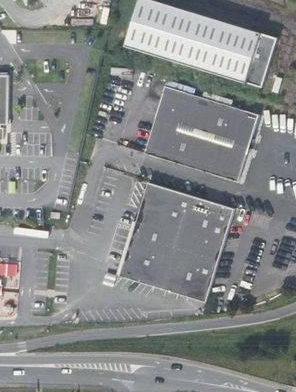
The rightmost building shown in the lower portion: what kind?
warehouse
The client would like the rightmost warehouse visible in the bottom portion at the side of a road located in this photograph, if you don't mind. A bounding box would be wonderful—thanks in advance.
[116,182,236,302]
